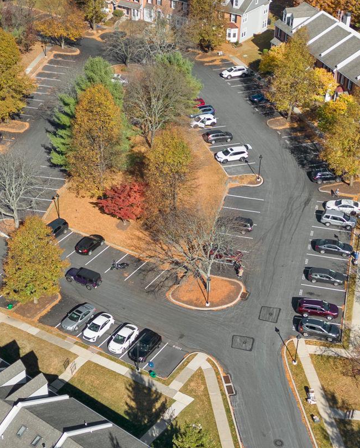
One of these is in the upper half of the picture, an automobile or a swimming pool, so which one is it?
automobile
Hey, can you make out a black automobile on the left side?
Yes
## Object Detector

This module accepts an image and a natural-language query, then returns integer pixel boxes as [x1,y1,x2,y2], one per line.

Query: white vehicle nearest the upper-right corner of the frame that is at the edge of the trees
[220,64,250,80]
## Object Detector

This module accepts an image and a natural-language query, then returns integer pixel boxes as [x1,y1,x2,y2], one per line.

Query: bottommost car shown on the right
[296,314,345,341]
